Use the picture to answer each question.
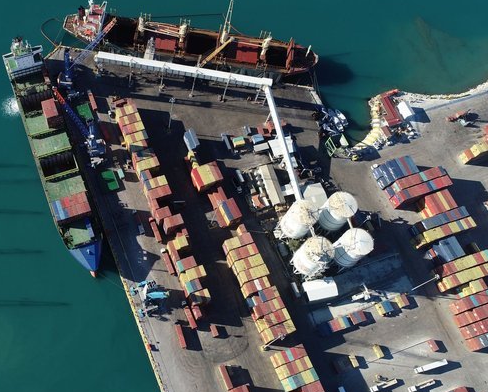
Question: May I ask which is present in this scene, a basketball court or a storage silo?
storage silo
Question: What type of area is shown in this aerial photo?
port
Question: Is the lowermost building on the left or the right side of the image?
right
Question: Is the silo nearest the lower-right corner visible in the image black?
No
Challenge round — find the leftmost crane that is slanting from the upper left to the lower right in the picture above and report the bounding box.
[32,85,115,164]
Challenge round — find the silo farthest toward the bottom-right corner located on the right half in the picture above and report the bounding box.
[330,229,373,272]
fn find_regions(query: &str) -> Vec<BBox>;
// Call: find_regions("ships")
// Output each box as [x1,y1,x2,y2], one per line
[61,0,318,81]
[7,44,104,282]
